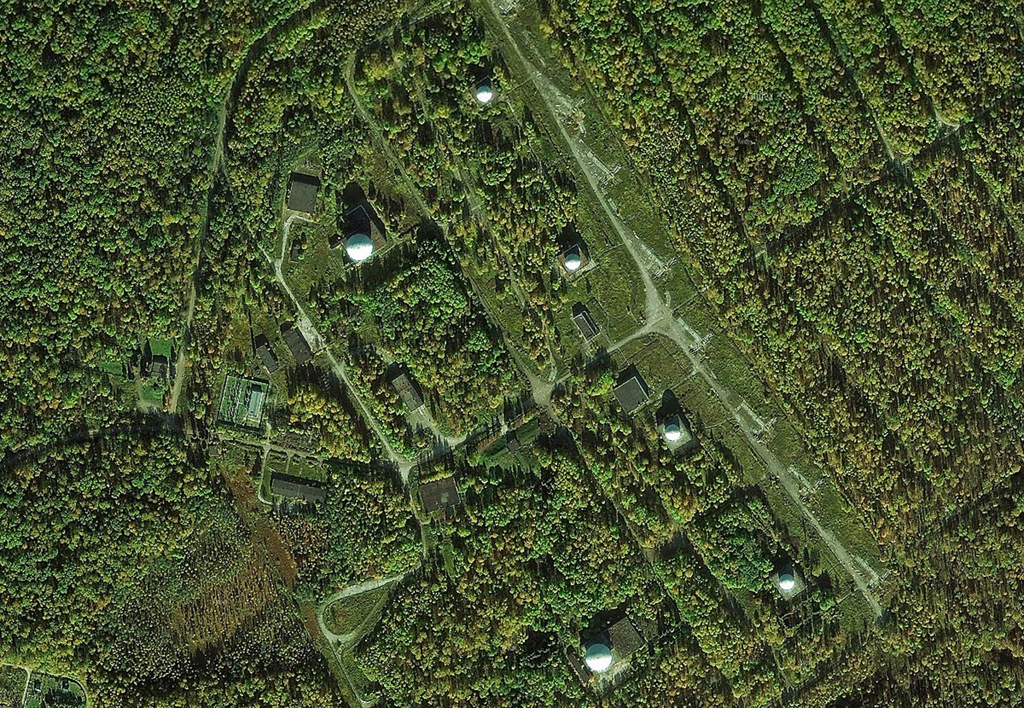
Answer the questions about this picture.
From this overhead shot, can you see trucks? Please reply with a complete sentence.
No, the scene contains no truck.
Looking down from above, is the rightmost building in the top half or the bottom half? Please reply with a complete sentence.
The rightmost building sits in the bottom half of the picture.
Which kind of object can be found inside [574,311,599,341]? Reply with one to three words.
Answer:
building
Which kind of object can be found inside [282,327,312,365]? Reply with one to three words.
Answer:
building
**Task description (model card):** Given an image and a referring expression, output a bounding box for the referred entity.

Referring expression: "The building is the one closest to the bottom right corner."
[772,564,807,601]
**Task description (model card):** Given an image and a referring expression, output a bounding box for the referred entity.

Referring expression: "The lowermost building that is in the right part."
[585,616,644,671]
